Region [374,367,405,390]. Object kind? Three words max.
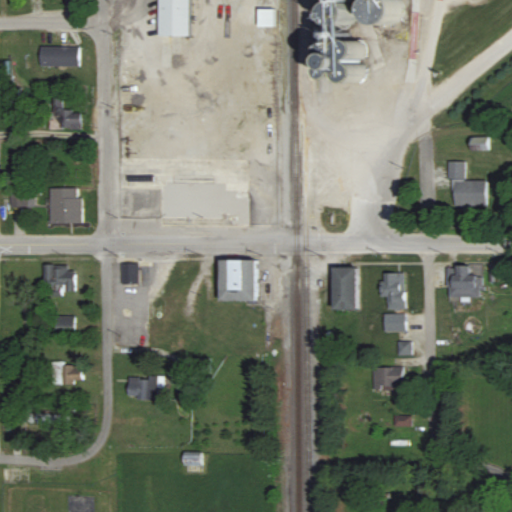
house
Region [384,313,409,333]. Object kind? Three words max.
building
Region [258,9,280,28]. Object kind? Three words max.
shed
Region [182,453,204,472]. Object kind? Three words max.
barn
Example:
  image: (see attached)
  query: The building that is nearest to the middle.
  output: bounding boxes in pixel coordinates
[218,260,260,301]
